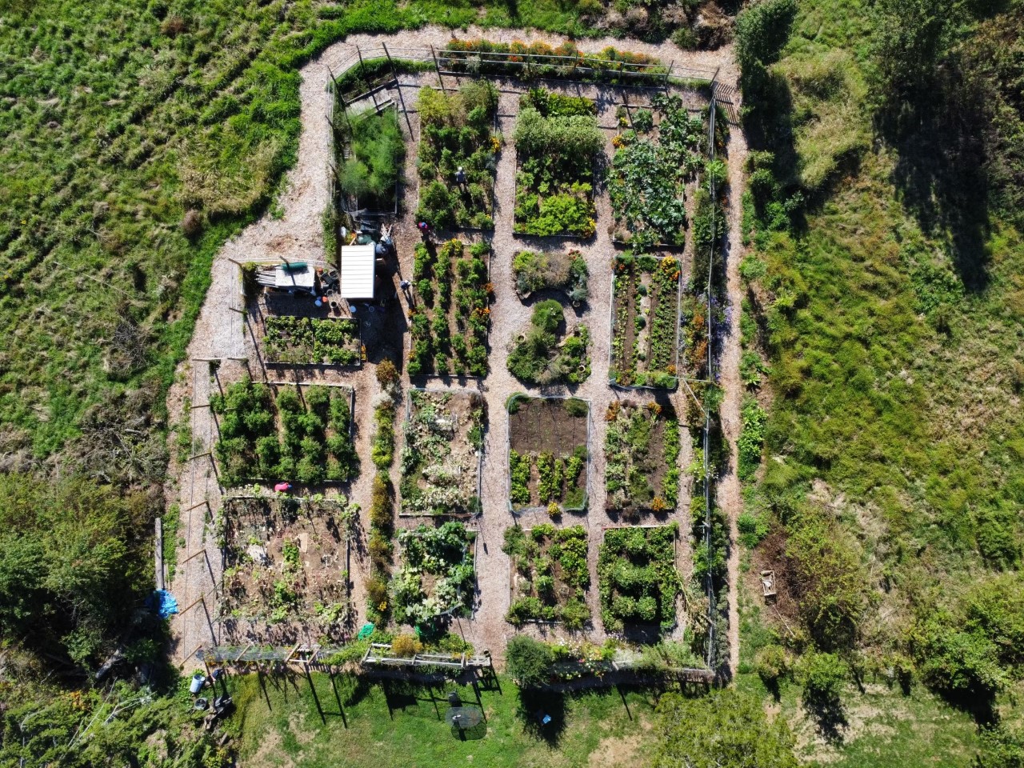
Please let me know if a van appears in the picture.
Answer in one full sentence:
No, I can see no van in this picture.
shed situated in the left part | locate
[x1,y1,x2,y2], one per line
[341,245,385,302]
